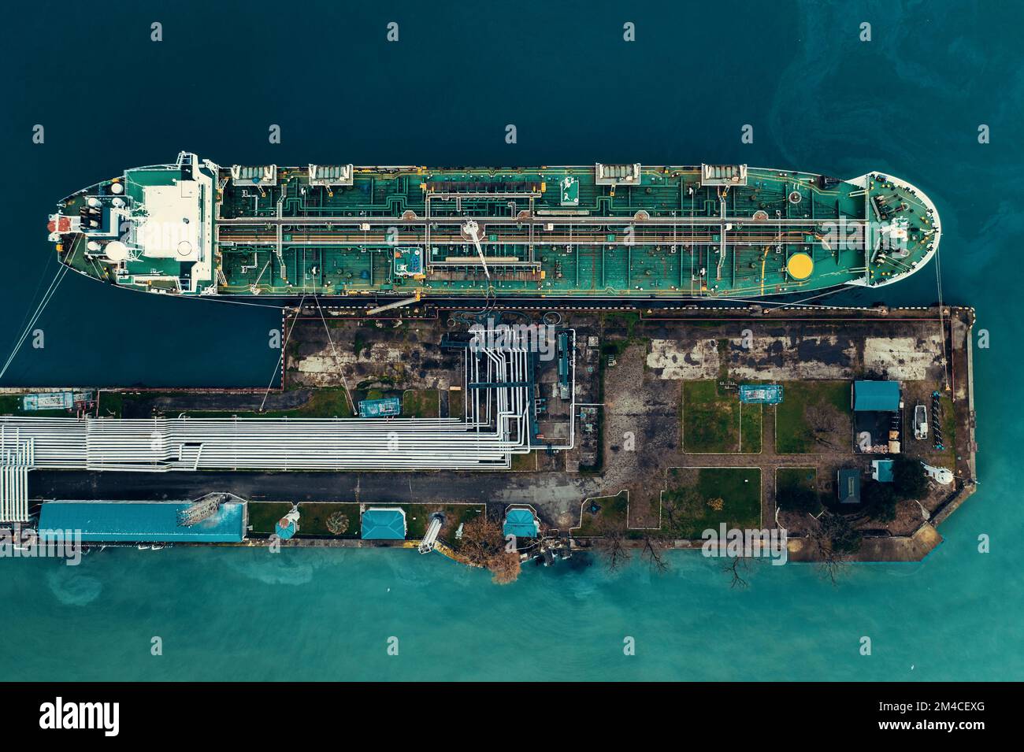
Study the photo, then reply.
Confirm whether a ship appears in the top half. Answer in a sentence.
Yes, a ship is visible in the top half.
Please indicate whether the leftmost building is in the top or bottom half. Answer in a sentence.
It is in the bottom half that the leftmost building appears.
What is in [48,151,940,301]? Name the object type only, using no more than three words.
ship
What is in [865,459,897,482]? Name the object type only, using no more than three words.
building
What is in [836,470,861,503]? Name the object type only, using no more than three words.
house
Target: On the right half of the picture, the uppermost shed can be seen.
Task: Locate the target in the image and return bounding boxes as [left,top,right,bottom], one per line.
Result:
[849,381,906,411]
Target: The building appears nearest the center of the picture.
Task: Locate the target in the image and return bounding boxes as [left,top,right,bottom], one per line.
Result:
[504,508,540,537]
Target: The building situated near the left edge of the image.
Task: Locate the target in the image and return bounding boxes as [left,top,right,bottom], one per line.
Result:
[0,492,248,547]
